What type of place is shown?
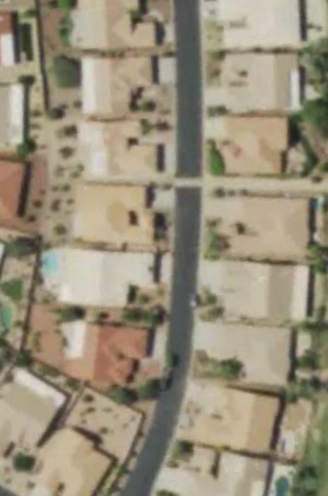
residential area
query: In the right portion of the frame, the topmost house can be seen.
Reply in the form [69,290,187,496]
[217,0,297,47]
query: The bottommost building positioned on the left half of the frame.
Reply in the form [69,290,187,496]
[37,433,117,496]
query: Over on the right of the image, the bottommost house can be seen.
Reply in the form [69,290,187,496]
[182,448,266,496]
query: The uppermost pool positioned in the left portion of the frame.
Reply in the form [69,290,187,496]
[41,251,59,278]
